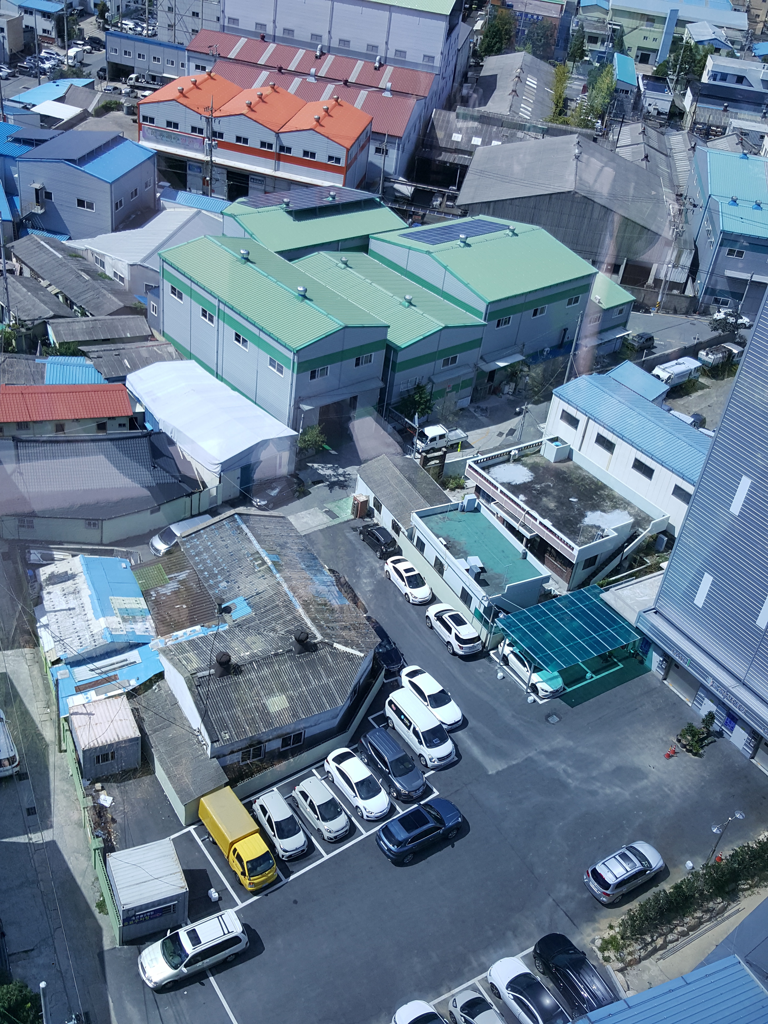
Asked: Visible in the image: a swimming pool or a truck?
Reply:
truck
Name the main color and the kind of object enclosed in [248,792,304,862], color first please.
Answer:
white car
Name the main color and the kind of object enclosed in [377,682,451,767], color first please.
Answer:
white van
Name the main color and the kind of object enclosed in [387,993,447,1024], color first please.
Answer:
white car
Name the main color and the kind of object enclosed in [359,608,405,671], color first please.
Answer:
black car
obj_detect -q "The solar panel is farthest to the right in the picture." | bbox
[399,219,508,245]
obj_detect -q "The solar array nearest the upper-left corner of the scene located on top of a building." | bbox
[227,185,382,217]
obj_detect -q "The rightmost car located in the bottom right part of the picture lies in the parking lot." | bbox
[580,842,669,906]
